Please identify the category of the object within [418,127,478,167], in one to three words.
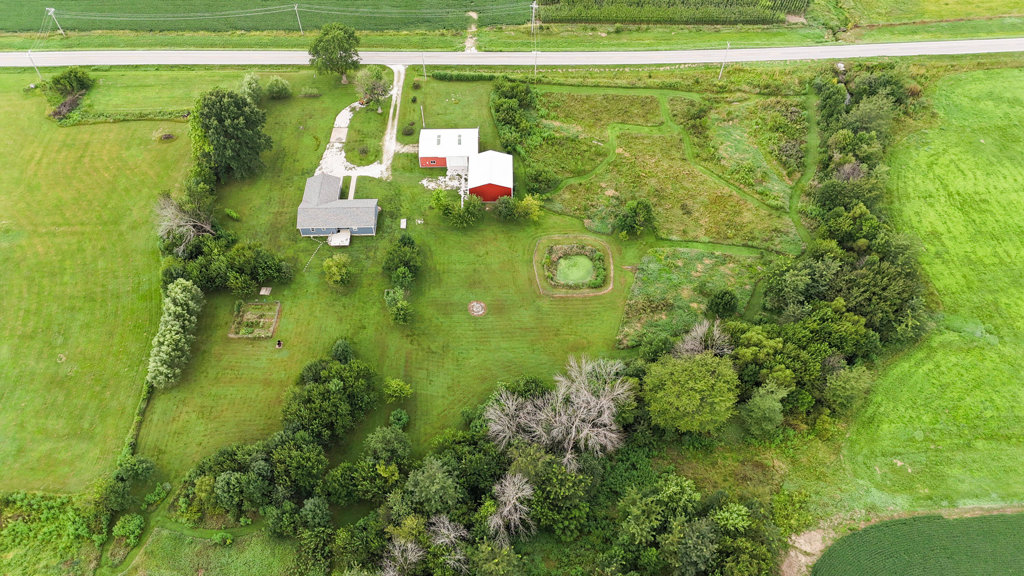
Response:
shed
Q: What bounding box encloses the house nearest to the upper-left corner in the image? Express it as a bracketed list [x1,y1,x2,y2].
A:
[296,171,379,236]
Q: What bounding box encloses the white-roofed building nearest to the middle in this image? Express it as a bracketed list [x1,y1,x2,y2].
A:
[467,149,513,202]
